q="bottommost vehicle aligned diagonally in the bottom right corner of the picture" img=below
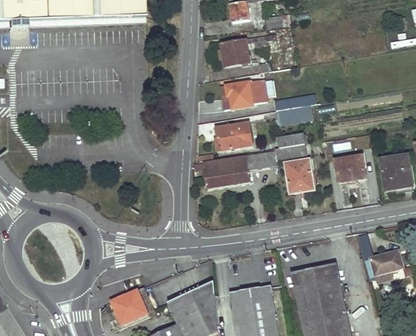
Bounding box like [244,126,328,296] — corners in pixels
[350,304,368,319]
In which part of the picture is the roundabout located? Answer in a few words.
bottom left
